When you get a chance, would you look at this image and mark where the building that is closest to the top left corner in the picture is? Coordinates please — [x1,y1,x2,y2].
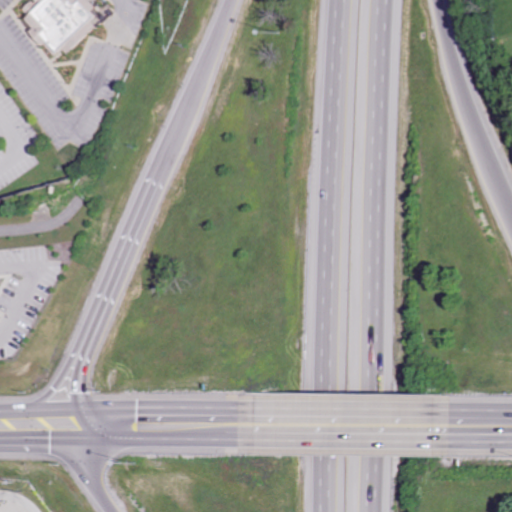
[22,0,104,57]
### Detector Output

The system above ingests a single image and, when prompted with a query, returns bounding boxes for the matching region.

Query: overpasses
[238,392,448,458]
